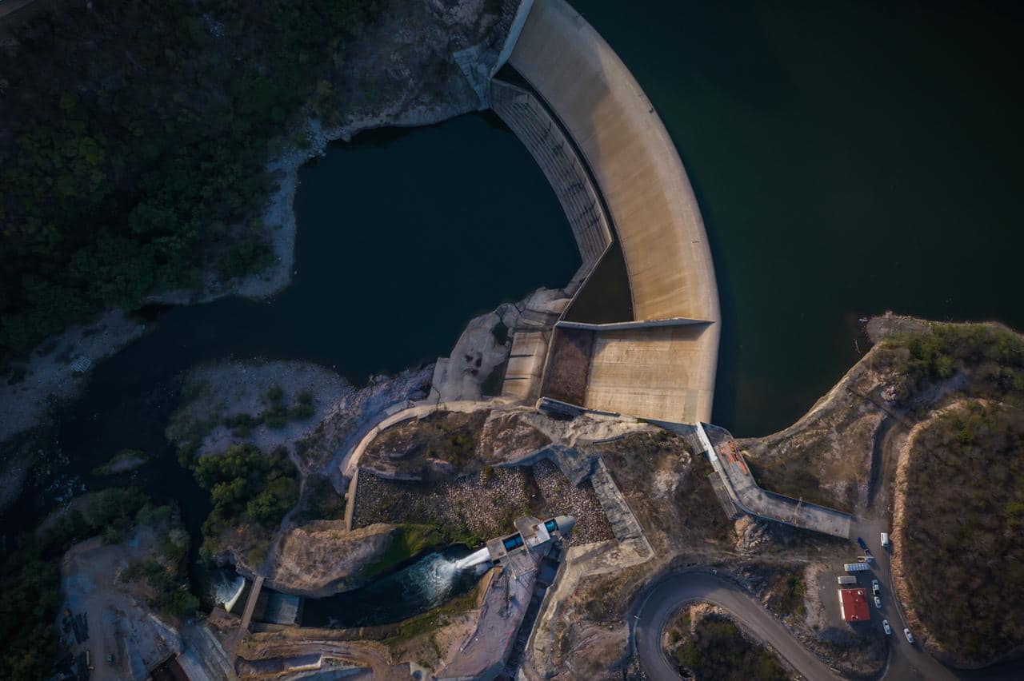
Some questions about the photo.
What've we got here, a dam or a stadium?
dam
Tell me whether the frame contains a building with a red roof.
Yes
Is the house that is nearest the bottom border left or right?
right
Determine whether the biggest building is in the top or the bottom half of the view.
bottom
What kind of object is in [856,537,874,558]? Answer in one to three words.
vehicle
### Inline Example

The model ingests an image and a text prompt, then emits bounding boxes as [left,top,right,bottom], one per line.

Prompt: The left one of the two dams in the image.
[251,589,302,632]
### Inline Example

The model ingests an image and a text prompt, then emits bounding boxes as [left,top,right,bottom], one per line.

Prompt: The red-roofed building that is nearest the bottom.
[837,585,870,622]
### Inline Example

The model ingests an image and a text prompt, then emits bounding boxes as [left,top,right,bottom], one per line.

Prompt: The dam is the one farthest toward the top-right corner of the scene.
[452,0,719,438]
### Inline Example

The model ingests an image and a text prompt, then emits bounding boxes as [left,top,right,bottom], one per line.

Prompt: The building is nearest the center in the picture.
[479,513,574,569]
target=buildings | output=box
[837,585,870,622]
[479,513,574,569]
